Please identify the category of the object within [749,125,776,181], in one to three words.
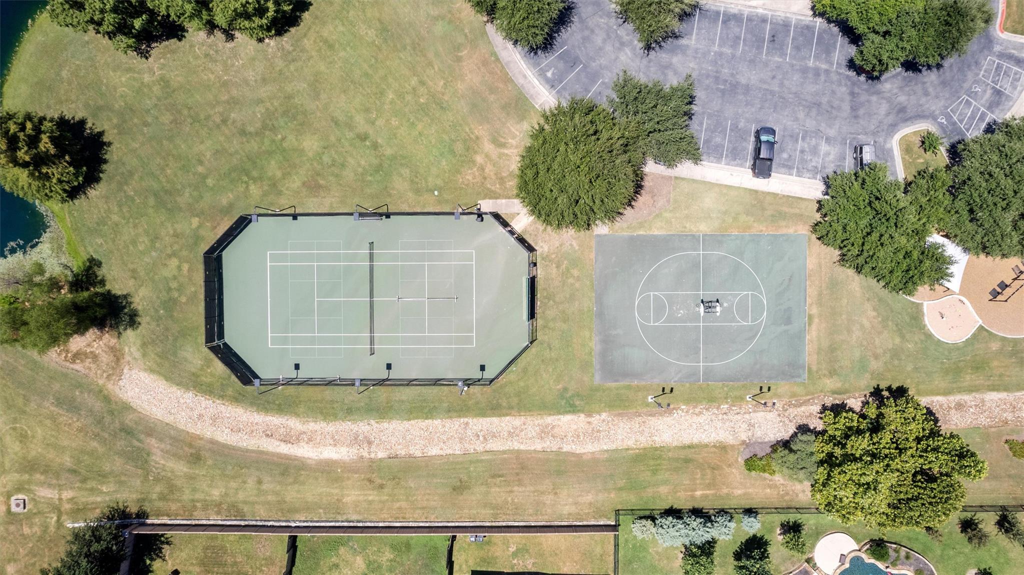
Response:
truck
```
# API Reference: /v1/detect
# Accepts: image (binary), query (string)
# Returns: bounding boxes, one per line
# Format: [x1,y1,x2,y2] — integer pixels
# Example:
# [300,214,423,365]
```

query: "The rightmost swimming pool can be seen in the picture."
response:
[843,552,912,575]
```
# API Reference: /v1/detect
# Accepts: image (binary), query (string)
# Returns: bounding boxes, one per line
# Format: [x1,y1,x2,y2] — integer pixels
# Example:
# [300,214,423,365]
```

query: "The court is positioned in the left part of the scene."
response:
[215,215,529,383]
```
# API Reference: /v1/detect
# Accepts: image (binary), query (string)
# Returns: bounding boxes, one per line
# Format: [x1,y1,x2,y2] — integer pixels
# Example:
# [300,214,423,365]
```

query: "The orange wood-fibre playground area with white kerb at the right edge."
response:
[889,209,1024,338]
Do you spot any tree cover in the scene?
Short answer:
Yes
